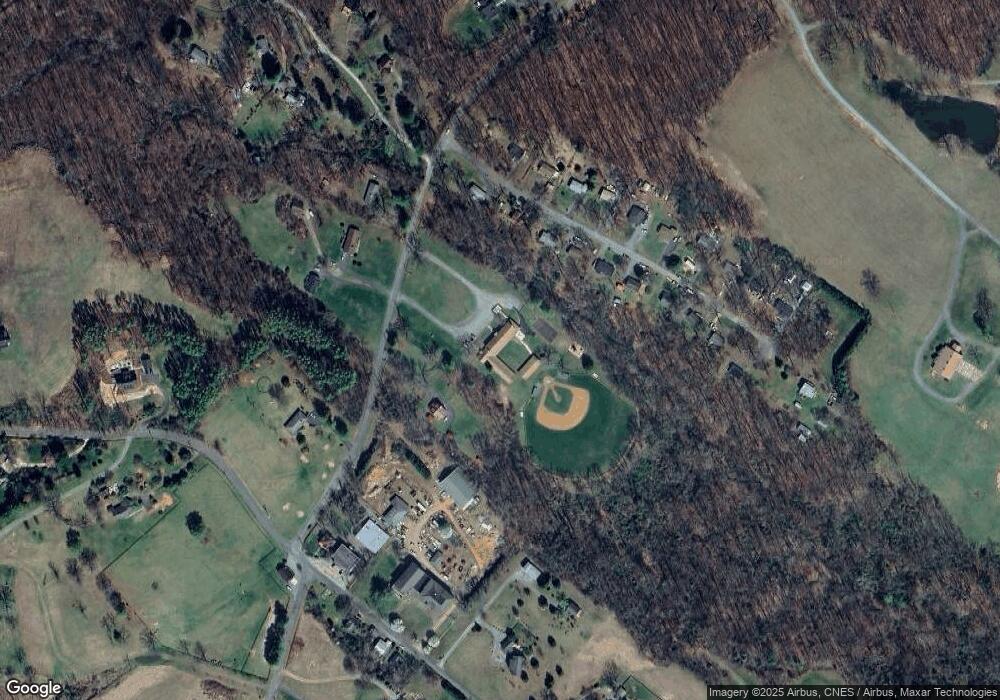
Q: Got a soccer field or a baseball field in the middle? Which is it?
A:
baseball field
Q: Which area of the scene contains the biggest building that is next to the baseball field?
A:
center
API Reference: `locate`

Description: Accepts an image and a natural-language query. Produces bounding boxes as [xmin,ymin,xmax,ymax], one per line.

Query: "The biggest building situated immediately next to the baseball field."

[476,317,541,383]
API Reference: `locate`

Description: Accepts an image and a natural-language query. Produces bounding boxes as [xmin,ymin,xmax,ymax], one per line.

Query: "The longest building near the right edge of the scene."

[932,342,963,381]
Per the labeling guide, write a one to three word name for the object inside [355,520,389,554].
building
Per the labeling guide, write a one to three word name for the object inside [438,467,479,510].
barn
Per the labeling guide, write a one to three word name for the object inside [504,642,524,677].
house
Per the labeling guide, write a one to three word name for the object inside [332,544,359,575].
building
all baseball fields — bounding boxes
[523,373,637,475]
